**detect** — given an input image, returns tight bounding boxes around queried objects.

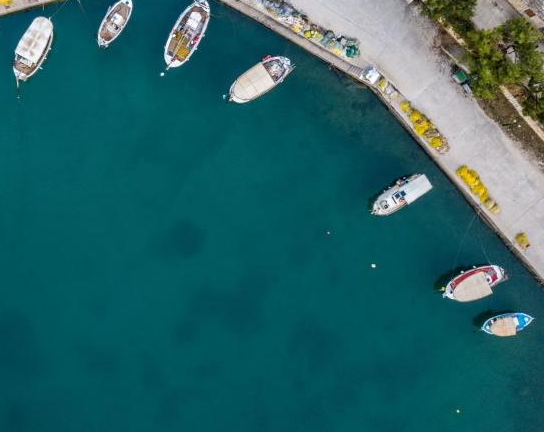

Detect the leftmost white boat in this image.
[14,15,53,90]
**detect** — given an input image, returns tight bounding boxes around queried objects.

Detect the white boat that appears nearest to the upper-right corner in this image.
[369,172,431,217]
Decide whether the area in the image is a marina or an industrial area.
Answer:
marina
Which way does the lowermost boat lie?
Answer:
horizontally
